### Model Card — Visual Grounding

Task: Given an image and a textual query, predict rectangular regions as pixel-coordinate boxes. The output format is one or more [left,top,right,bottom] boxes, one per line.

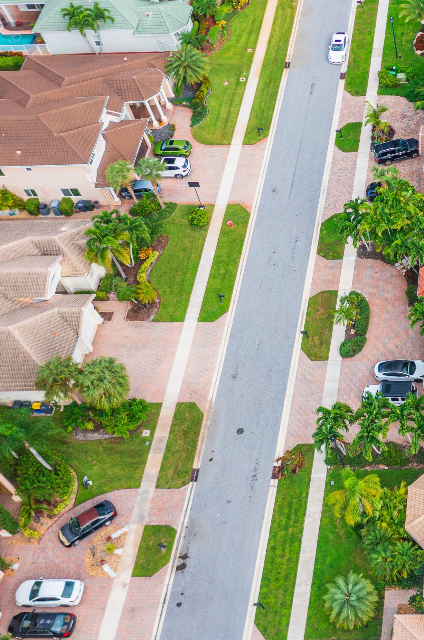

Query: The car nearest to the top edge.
[325,32,348,64]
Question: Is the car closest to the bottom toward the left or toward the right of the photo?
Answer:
left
